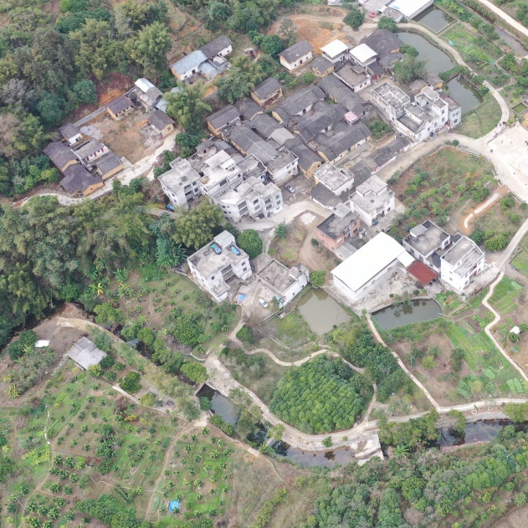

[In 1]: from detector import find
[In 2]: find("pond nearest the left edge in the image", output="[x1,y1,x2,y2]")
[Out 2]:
[296,291,352,337]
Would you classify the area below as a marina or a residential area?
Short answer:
residential area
